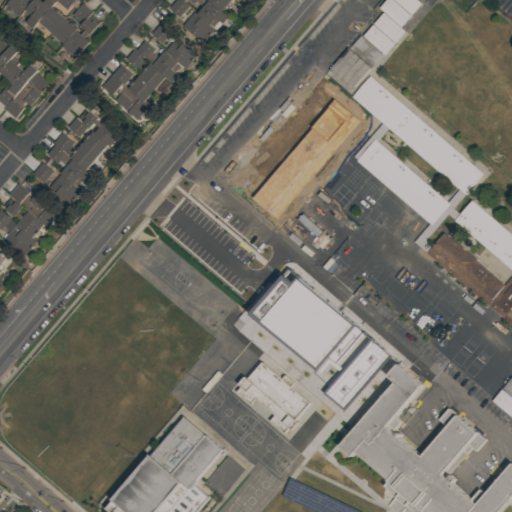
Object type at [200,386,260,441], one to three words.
basketball court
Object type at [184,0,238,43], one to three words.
house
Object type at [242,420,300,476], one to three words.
basketball court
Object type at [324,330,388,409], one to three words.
building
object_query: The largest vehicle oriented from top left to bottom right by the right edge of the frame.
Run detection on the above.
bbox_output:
[491,319,510,336]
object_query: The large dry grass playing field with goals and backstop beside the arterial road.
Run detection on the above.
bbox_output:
[0,264,216,512]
